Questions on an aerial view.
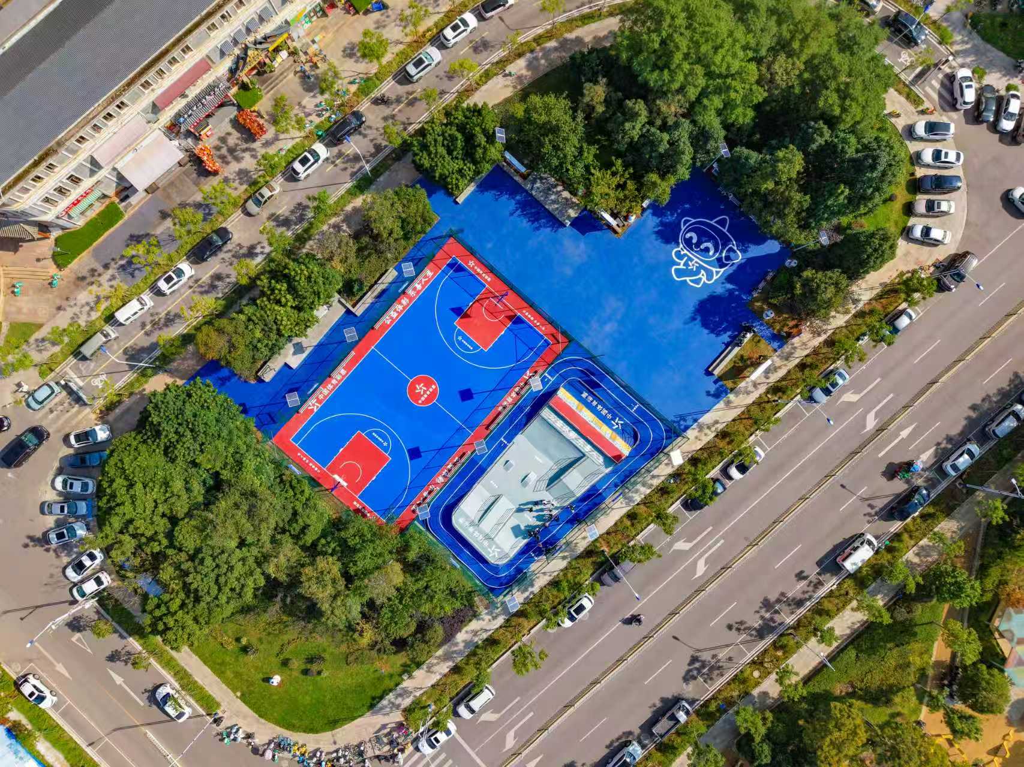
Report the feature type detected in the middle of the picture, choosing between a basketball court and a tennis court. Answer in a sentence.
What appears in the middle of the picture is a basketball court.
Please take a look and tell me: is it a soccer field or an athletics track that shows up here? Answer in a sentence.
Of the two, only an athletics track appears.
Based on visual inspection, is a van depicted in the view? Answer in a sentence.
Yes, the image includes a van.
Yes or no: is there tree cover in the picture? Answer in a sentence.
Yes, the picture does contain tree cover.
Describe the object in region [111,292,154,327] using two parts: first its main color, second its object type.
white vehicle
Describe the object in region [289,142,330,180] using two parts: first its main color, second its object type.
white car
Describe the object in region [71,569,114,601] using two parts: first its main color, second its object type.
white car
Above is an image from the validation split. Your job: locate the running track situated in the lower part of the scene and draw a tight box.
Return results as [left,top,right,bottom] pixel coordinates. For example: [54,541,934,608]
[423,353,668,590]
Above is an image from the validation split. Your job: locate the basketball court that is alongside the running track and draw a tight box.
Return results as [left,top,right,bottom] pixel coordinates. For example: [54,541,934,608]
[272,237,569,537]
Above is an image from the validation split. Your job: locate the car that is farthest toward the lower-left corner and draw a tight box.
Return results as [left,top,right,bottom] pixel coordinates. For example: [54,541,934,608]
[18,671,59,710]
